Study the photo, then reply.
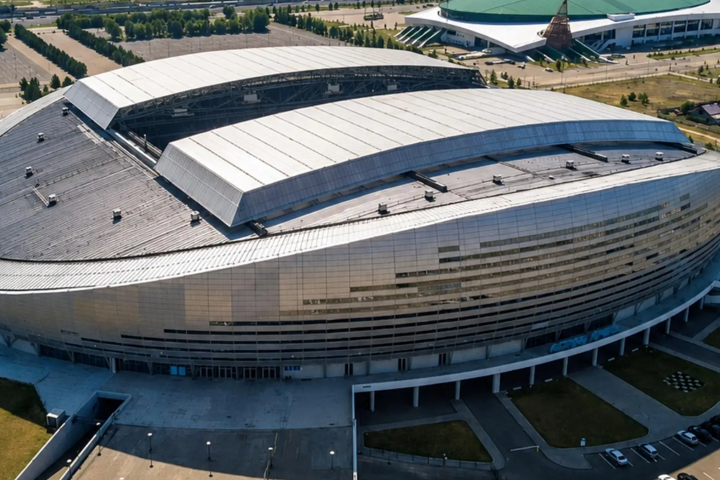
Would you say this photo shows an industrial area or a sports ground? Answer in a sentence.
This looks like a sports ground.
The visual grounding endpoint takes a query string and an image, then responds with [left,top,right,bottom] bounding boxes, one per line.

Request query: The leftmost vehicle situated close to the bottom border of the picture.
[606,448,629,465]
